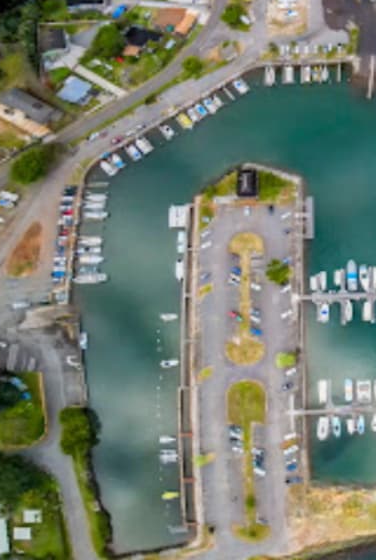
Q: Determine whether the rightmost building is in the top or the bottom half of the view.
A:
top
